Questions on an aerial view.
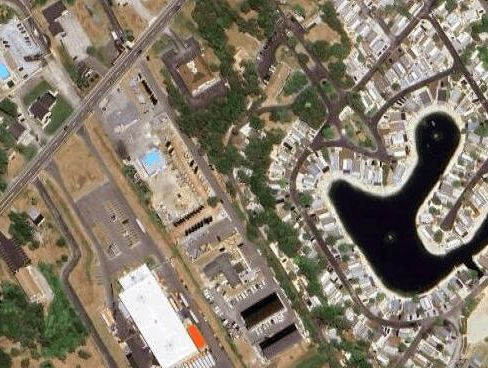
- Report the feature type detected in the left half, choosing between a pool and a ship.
pool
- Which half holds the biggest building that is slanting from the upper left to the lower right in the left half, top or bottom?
bottom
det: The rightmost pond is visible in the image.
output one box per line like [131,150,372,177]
[328,112,488,298]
